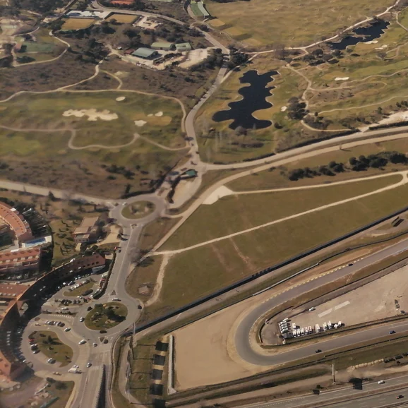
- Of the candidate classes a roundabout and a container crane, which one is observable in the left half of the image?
roundabout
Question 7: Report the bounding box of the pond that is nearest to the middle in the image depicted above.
[213,69,281,128]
